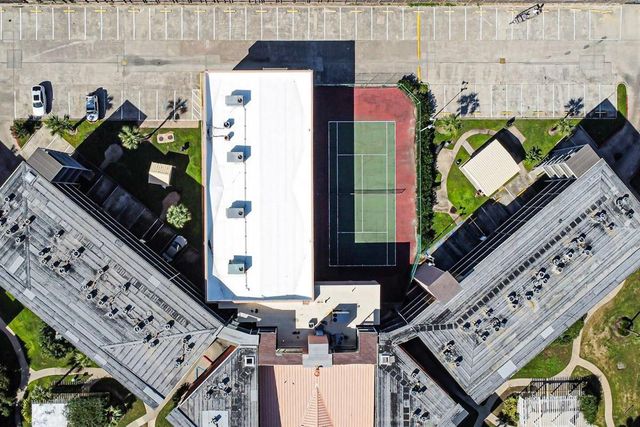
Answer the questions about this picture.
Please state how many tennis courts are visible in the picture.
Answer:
1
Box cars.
[84,94,99,121]
[31,86,46,116]
[164,233,188,262]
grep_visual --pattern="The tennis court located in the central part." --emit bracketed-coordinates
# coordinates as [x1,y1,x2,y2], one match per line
[314,86,417,287]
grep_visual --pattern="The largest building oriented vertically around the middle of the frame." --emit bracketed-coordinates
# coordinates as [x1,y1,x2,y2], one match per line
[203,68,314,303]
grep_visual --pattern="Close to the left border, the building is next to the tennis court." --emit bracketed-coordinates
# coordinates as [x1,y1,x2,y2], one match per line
[0,163,235,409]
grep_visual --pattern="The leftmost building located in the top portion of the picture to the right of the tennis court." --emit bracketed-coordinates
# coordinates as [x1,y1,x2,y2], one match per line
[458,139,521,198]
